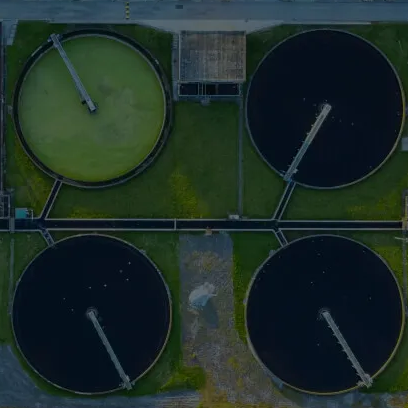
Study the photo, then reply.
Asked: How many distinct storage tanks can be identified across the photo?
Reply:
4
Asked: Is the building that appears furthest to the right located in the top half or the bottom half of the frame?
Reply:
top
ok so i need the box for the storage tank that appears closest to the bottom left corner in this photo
[12,234,173,394]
